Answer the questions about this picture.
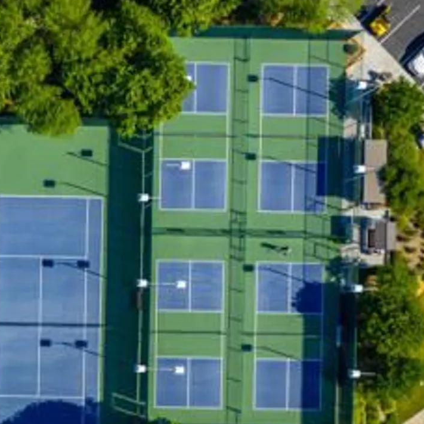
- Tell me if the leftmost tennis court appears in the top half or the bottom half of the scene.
bottom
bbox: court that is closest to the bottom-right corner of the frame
[254,262,324,411]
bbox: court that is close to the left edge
[0,195,104,424]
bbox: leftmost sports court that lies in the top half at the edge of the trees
[160,63,231,211]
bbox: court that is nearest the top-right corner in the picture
[260,64,331,213]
